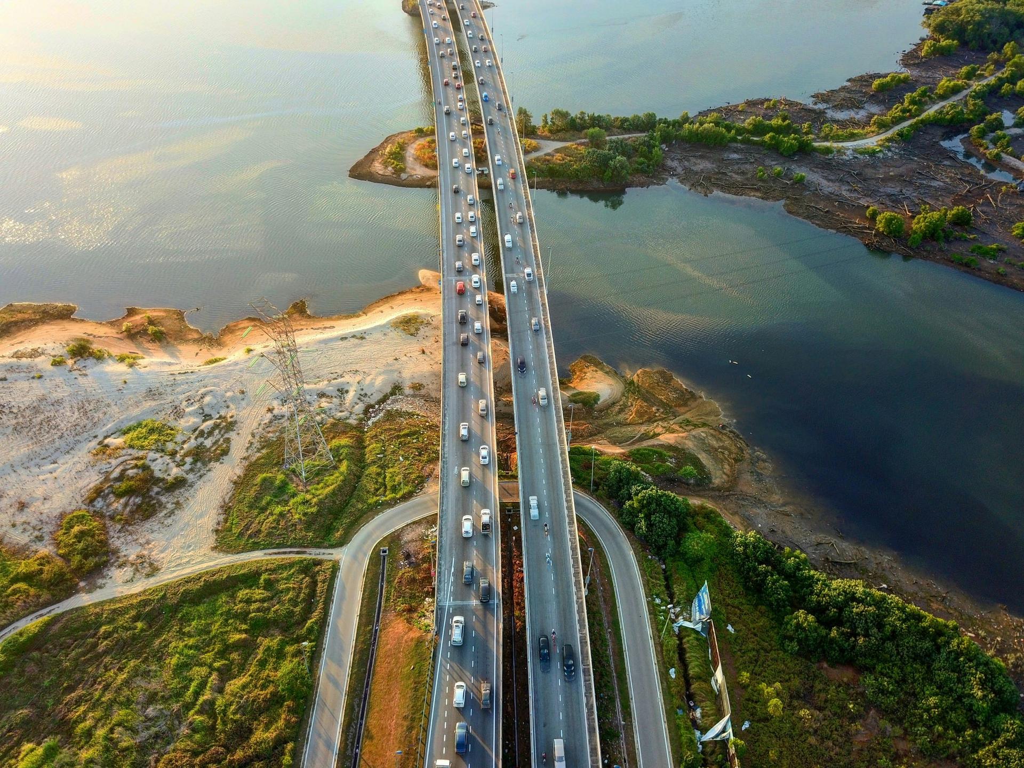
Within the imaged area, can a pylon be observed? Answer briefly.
Yes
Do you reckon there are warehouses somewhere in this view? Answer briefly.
No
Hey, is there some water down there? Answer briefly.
Yes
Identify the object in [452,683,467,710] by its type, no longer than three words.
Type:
car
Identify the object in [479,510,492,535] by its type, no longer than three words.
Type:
vehicle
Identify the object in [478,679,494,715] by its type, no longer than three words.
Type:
vehicle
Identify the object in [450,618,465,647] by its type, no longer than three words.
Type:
car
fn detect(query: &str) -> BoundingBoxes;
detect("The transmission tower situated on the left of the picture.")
[238,297,350,485]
